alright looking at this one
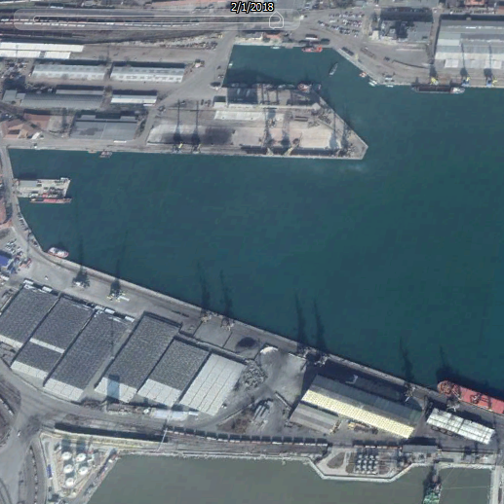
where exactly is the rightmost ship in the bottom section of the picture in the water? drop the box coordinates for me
[438,381,504,414]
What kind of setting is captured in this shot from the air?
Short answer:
port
